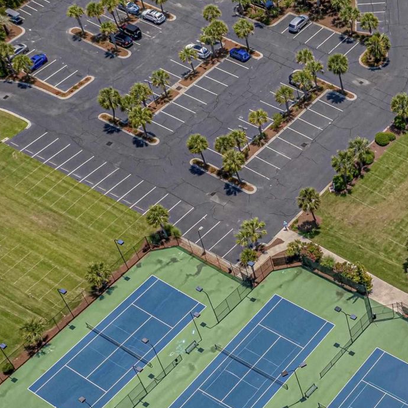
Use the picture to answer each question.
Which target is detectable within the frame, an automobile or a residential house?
automobile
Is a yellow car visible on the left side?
No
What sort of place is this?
sports ground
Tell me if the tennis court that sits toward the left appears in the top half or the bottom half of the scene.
bottom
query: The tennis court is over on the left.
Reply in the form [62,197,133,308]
[0,246,253,408]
